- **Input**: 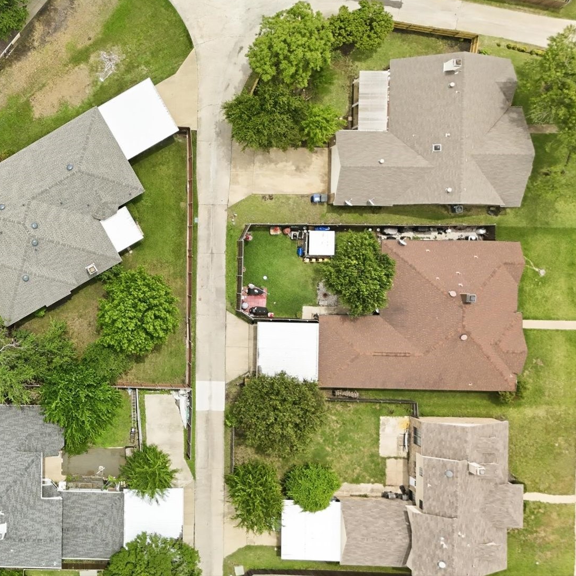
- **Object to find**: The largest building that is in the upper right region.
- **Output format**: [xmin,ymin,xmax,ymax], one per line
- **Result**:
[330,52,534,207]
